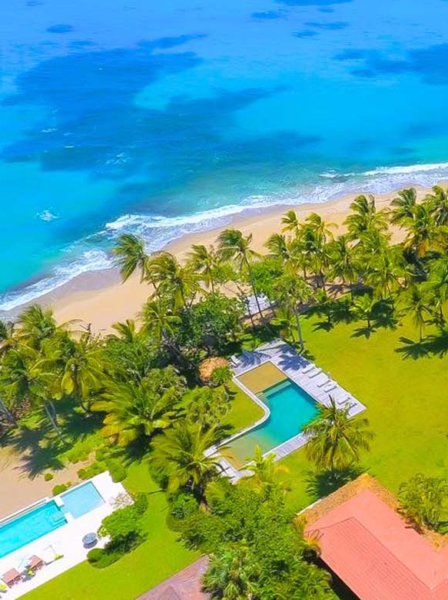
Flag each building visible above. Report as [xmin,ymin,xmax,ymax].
[289,484,448,600]
[140,555,247,600]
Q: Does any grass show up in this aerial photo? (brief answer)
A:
Yes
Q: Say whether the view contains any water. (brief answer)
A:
Yes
